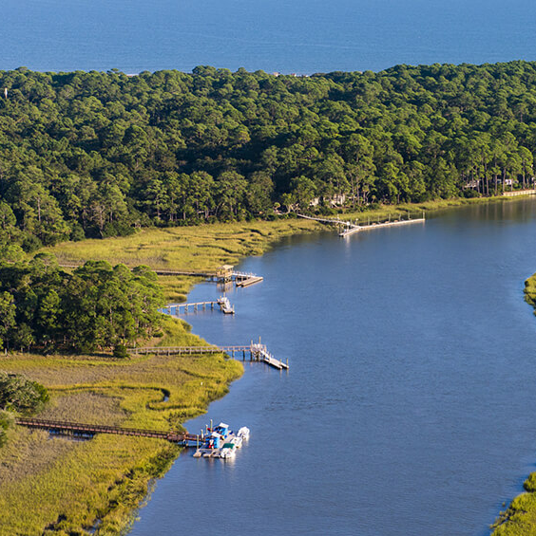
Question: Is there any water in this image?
Yes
